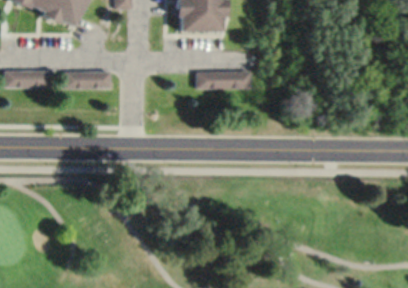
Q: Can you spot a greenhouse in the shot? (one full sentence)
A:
No, this view has no greenhouse in it.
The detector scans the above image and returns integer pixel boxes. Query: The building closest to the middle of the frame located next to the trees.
[195,71,250,90]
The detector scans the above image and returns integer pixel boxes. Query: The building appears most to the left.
[4,71,46,88]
